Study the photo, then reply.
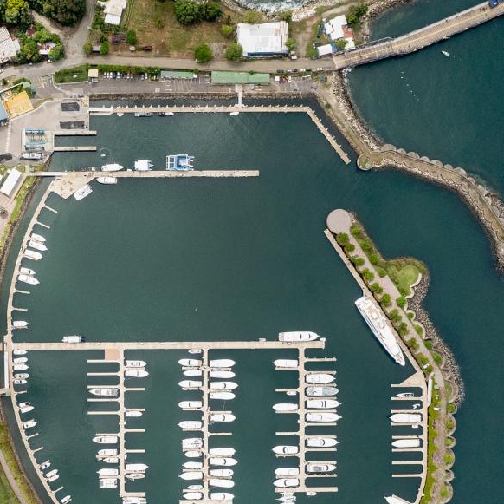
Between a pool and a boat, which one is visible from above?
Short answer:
boat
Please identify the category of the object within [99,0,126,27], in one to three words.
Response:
house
